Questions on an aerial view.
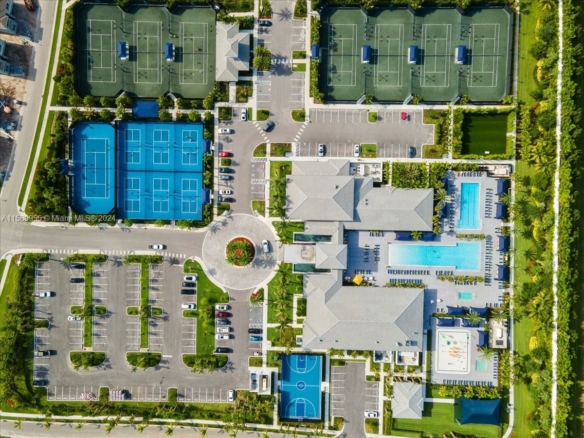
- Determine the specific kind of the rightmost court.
tennis court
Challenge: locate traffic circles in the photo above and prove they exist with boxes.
[202,213,278,290]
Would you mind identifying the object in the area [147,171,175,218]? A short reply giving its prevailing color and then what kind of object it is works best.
blue sports court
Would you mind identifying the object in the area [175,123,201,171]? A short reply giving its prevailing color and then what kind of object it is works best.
blue sports court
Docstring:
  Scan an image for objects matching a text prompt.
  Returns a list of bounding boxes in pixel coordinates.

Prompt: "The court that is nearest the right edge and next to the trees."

[461,8,510,100]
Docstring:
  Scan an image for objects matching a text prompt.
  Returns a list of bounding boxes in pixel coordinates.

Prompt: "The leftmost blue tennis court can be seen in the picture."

[72,121,112,214]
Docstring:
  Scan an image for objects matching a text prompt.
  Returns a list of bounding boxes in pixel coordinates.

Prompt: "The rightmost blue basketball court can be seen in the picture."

[282,357,322,419]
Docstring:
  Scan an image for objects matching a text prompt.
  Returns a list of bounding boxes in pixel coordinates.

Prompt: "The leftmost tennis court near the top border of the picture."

[77,3,124,94]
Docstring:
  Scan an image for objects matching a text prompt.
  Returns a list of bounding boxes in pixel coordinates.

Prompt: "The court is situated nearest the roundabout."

[175,171,201,218]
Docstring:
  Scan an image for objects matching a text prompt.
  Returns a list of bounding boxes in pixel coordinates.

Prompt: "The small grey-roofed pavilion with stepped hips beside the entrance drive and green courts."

[216,22,250,83]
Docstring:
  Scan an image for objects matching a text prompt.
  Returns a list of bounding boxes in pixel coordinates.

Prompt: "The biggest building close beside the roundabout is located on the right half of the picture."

[286,159,434,351]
